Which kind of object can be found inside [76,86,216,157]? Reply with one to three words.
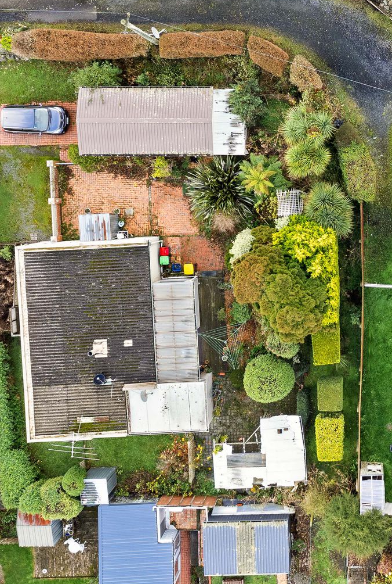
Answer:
building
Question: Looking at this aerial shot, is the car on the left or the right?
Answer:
left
